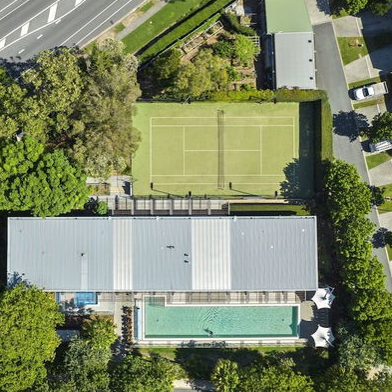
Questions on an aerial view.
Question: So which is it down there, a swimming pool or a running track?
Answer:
swimming pool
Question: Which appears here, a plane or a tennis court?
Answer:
tennis court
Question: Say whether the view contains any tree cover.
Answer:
Yes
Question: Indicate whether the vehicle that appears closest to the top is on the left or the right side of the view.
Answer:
right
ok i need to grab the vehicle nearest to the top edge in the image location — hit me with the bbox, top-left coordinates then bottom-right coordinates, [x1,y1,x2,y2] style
[356,79,392,99]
